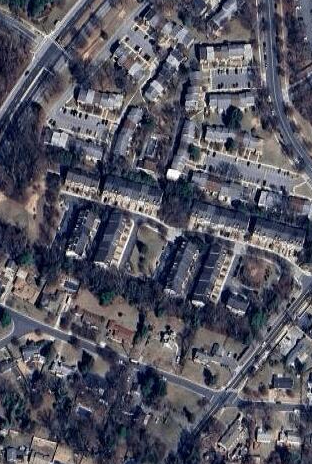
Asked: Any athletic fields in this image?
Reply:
No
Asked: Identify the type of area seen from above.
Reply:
residential area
